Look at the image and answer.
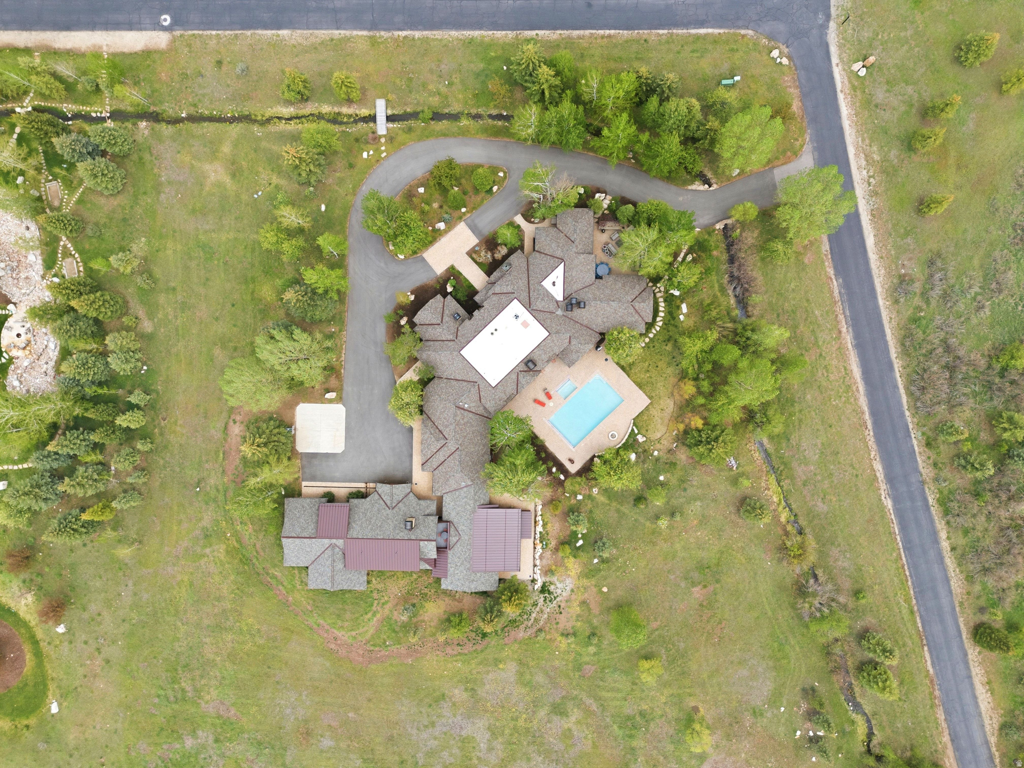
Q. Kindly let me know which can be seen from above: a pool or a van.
pool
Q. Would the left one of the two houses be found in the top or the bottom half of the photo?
bottom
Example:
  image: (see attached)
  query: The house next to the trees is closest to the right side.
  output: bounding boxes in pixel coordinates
[412,208,653,592]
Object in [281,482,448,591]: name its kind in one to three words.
house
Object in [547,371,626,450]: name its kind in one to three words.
swimming pool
